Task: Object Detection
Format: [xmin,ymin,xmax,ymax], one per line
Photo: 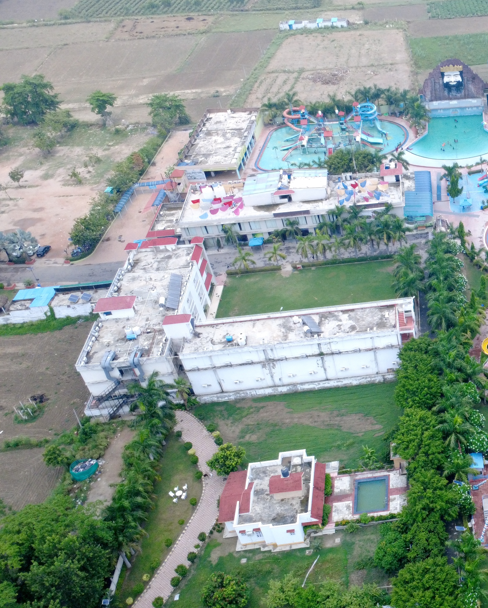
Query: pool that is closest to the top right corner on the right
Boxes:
[400,112,488,168]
